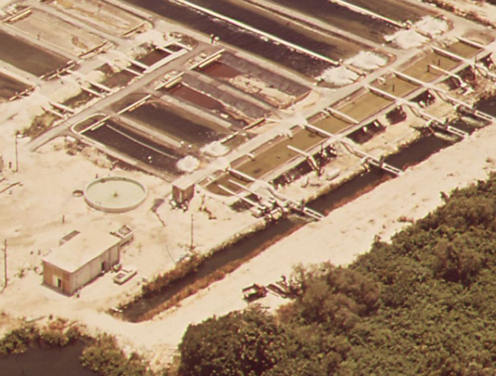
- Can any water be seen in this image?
Yes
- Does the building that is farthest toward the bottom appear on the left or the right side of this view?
left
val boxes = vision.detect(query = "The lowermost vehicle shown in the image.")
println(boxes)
[241,281,266,299]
